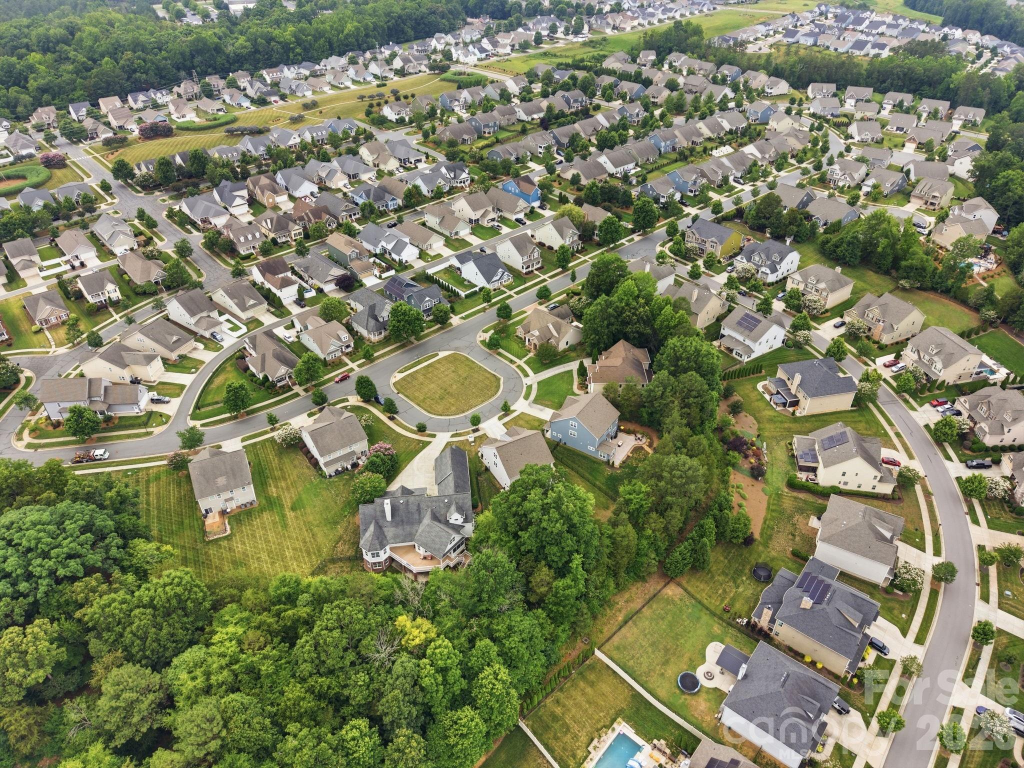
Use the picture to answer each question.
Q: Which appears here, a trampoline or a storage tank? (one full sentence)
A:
Visible in the photo is a trampoline.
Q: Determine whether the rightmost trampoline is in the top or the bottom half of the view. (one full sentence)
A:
You can find the rightmost trampoline in the bottom half.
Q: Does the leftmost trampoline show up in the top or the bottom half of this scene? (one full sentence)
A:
It is in the bottom half that the leftmost trampoline appears.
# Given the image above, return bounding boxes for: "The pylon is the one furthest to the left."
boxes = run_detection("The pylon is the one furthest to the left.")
[186,68,208,102]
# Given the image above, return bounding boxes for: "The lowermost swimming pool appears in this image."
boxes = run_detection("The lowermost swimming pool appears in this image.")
[590,728,646,768]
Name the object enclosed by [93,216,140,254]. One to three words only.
house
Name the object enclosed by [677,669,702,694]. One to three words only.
trampoline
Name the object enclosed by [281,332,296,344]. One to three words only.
vehicle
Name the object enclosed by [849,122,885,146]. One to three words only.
house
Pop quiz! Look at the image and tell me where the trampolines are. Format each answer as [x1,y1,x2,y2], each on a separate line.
[752,561,774,582]
[677,669,702,694]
